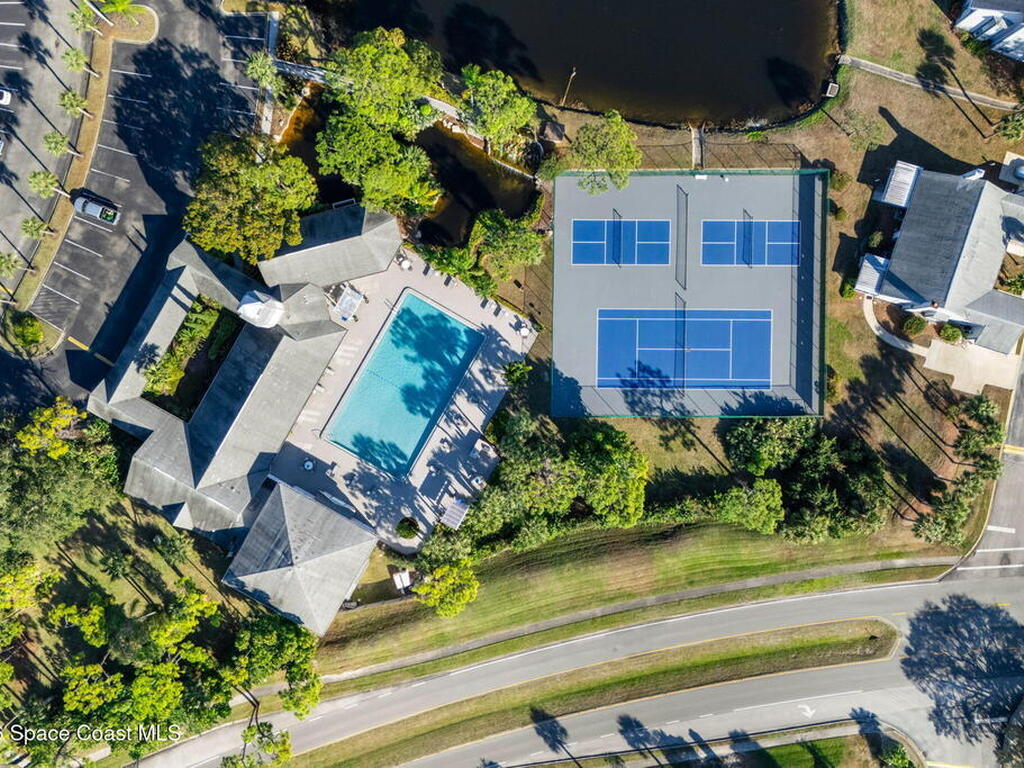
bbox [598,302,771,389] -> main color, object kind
blue tennis court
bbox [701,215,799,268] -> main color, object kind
blue sports court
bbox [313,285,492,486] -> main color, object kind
blue swimming pool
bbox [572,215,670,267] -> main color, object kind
blue sports court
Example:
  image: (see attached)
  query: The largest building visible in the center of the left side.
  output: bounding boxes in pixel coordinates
[87,205,401,531]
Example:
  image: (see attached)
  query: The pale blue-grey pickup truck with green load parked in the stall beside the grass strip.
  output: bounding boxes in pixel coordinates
[72,194,118,220]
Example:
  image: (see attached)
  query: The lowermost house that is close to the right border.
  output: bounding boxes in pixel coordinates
[849,162,1024,355]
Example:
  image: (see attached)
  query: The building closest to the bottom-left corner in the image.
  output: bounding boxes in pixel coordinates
[222,477,380,636]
